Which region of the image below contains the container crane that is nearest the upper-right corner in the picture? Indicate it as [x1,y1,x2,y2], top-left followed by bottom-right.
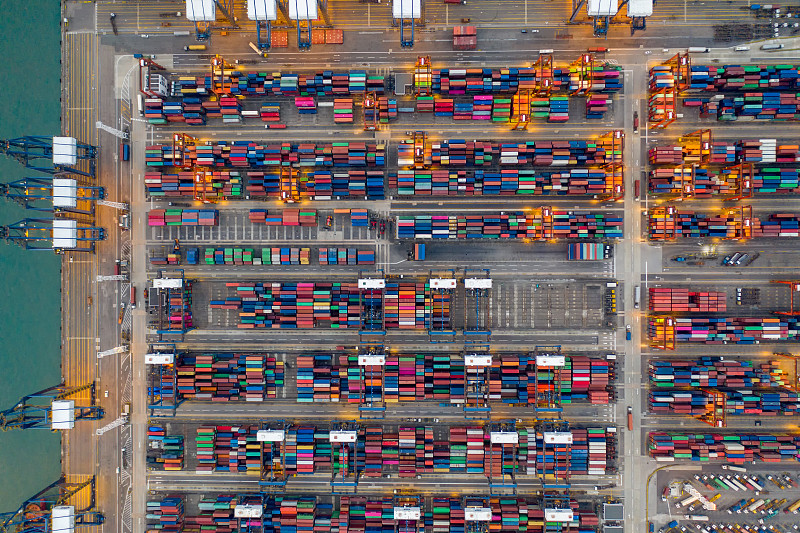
[660,51,690,95]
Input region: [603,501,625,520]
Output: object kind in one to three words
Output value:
building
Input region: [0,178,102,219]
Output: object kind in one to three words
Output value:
container crane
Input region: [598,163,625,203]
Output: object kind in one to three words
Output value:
container crane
